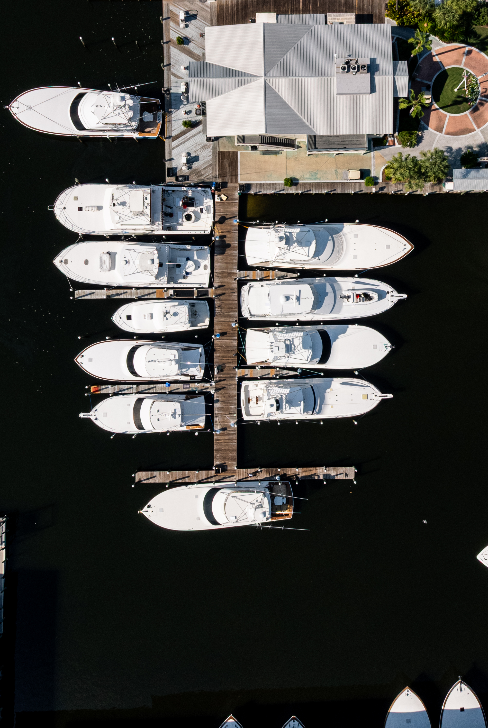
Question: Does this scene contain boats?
Yes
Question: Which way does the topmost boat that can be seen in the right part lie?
from left to right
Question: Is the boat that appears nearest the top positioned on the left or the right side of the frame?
left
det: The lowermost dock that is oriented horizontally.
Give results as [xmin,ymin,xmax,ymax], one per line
[135,465,356,483]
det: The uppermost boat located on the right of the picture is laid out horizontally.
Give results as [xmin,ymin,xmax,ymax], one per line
[231,218,413,271]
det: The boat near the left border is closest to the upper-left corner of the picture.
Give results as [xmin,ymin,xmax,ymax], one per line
[2,81,163,141]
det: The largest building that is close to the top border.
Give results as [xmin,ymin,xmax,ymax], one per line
[189,13,409,154]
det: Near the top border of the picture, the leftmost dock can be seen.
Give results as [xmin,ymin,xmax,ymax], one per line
[163,0,227,186]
